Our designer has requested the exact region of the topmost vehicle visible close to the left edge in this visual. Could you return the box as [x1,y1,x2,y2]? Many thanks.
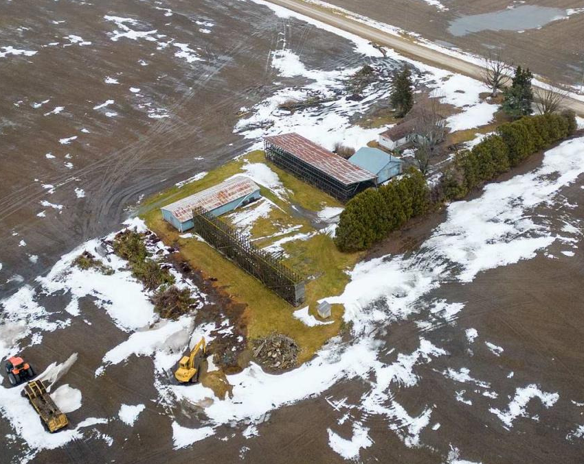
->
[6,357,39,388]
